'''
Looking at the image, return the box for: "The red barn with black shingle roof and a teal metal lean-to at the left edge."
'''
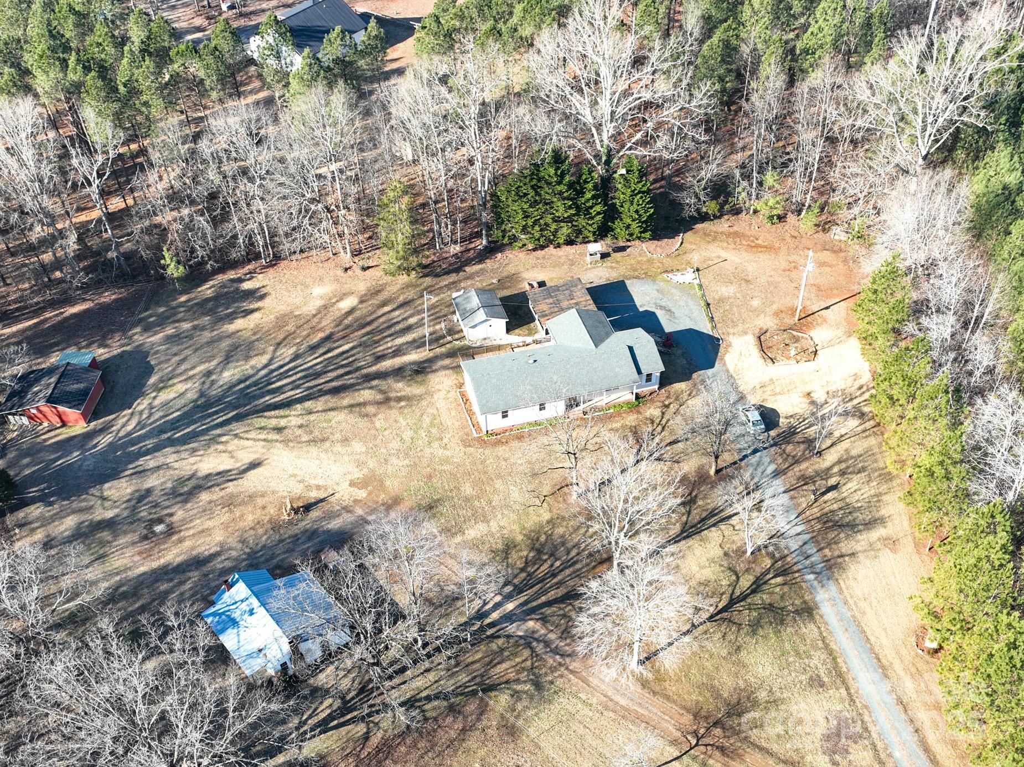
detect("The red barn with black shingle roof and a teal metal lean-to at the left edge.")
[0,352,103,426]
